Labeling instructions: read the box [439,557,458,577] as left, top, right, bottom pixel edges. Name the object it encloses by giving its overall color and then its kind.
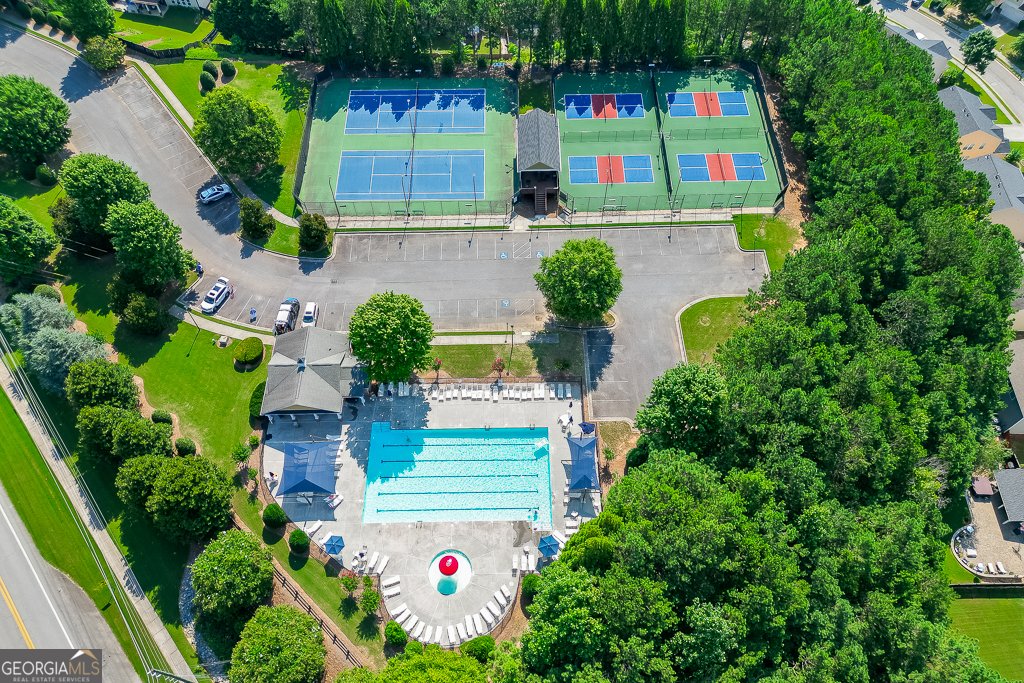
red fountain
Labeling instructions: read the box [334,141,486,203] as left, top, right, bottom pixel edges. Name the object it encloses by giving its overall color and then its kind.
blue tennis court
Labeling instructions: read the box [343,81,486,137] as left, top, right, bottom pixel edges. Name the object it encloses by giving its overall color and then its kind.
blue tennis court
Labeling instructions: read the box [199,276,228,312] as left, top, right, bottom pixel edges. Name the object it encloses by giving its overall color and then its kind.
white car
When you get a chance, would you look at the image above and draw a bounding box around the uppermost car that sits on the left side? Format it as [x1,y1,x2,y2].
[197,184,229,202]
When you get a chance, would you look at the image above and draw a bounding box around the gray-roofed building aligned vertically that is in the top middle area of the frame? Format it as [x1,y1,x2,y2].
[515,103,562,214]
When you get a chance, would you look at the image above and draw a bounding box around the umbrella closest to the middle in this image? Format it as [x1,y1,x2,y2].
[578,417,594,434]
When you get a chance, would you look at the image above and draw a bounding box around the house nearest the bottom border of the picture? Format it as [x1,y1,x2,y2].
[985,464,1024,528]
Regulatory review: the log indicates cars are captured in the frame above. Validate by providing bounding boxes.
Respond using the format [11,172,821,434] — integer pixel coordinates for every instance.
[911,0,924,5]
[270,298,301,333]
[299,300,319,326]
[197,184,229,202]
[199,276,228,312]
